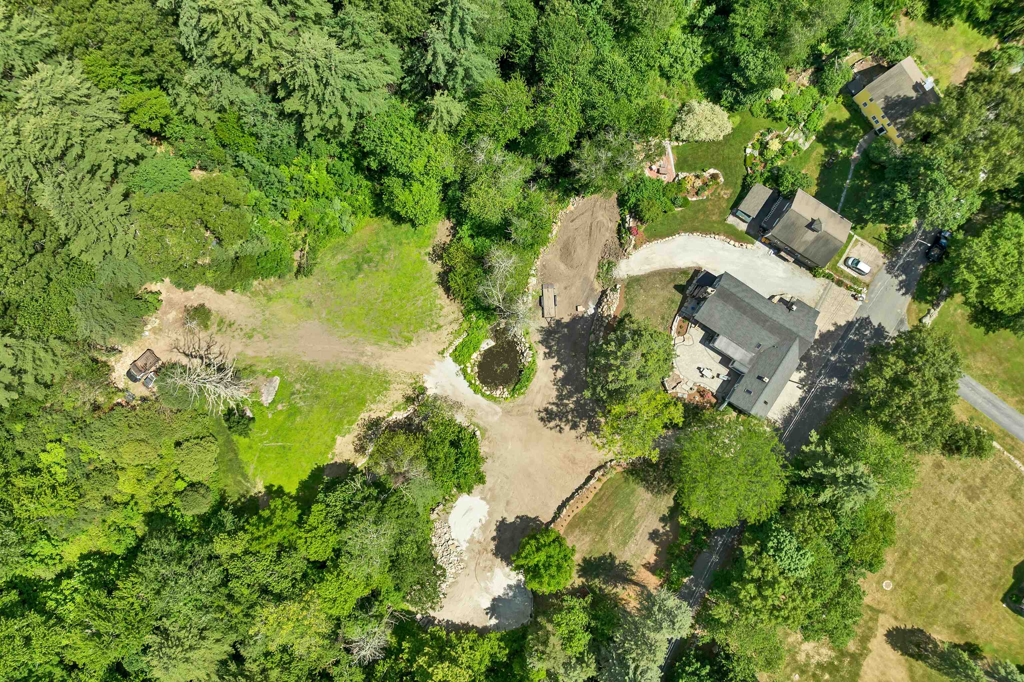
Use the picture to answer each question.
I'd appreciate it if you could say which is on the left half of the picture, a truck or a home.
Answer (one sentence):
The feature located on the left half of the picture is a truck.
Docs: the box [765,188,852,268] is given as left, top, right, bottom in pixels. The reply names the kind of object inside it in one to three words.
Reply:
barn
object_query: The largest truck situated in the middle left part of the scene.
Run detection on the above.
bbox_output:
[124,348,158,387]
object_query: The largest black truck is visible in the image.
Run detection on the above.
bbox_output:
[923,227,951,266]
